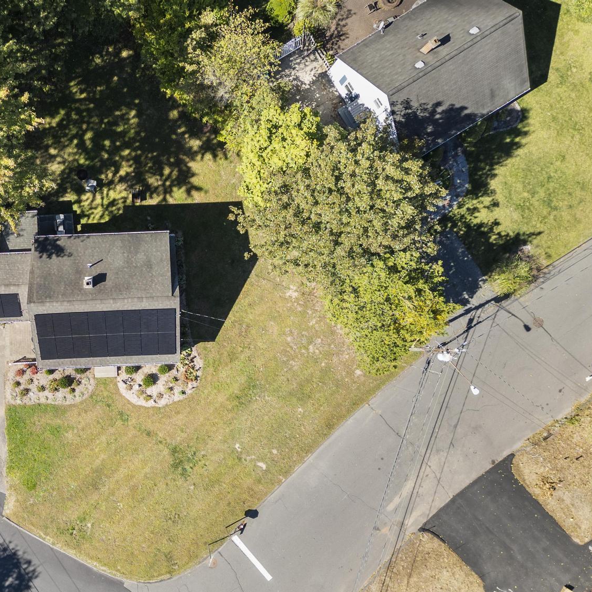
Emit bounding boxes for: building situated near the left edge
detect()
[0,211,181,370]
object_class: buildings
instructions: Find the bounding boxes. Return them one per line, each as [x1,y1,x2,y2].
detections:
[328,0,532,170]
[0,211,181,370]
